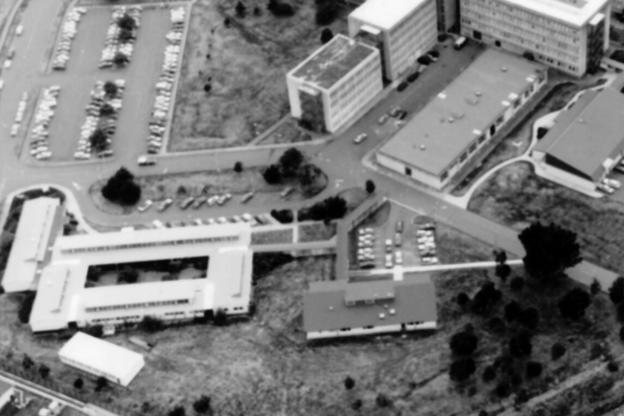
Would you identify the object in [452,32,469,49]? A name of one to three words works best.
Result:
vehicle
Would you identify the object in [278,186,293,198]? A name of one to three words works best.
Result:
vehicle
